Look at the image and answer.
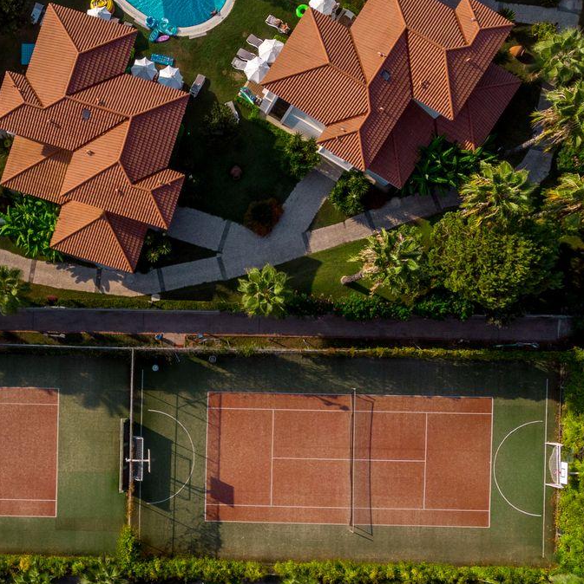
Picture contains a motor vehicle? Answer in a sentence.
No, no motor vehicle is visible in the scene.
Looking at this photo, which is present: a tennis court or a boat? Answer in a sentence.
I can see a tennis court in this picture.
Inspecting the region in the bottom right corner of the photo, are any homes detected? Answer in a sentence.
No, the scene shows no home in the bottom right corner of the photo.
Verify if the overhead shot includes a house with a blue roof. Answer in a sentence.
No, no house with a blue roof can be seen from above.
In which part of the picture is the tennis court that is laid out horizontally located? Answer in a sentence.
Look in the bottom portion of the view to spot the tennis court that is laid out horizontally.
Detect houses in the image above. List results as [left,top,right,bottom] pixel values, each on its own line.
[0,1,192,273]
[261,0,523,206]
